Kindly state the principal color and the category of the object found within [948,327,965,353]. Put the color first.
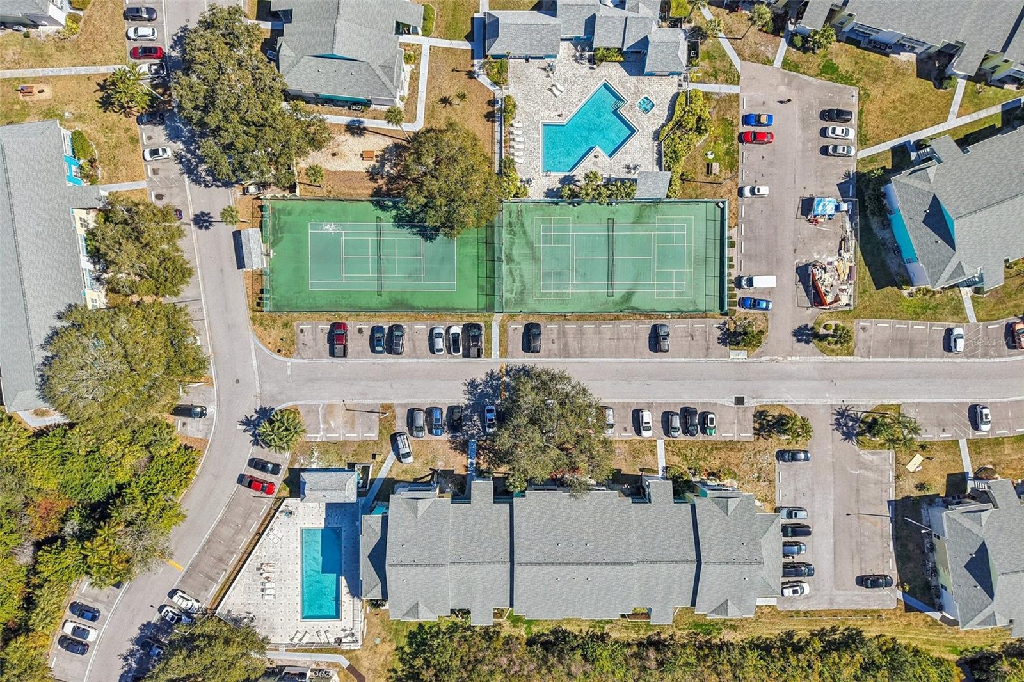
white car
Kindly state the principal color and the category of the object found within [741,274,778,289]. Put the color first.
white vehicle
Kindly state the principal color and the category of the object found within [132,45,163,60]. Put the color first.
red car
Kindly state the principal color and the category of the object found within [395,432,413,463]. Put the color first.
white car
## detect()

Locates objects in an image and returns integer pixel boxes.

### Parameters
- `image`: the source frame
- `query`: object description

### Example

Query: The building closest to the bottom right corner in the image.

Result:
[926,475,1024,637]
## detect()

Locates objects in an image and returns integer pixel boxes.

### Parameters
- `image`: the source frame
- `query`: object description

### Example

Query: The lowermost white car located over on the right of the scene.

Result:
[781,582,809,597]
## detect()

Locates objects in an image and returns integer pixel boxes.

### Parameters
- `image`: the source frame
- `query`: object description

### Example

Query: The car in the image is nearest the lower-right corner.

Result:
[862,574,892,588]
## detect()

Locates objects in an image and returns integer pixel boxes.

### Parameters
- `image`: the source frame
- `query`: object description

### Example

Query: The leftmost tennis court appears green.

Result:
[269,200,494,312]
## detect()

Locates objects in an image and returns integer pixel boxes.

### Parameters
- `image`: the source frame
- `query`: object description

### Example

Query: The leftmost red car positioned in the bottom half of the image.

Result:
[244,476,277,493]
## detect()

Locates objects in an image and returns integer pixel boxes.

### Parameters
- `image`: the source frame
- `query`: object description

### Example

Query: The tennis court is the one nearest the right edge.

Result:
[503,202,723,312]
